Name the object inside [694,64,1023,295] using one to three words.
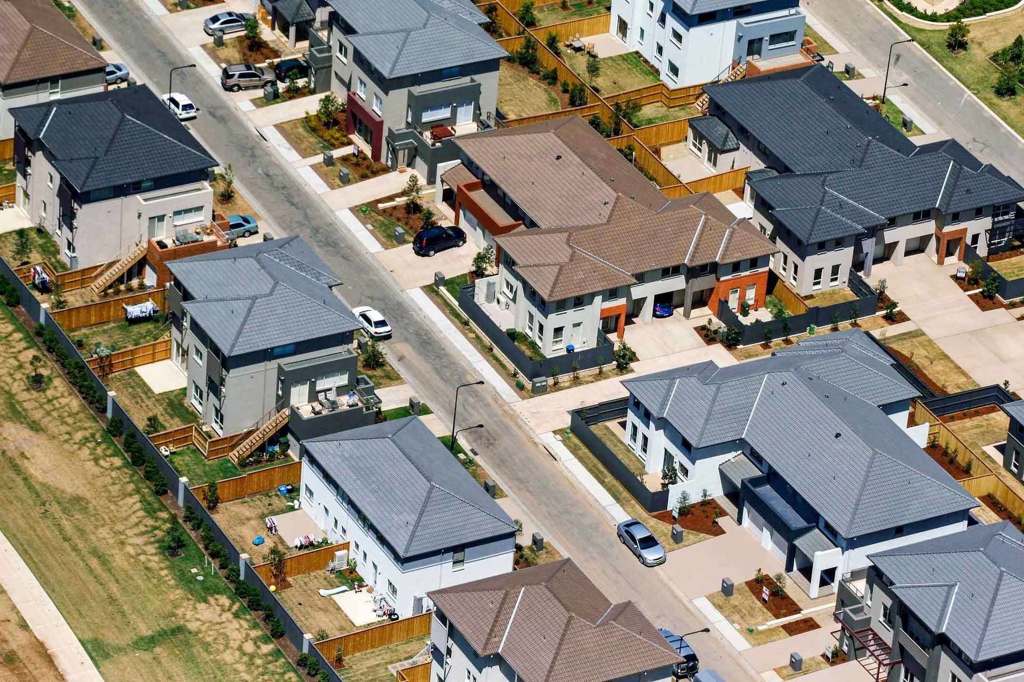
house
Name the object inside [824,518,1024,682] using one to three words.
house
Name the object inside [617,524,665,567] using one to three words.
car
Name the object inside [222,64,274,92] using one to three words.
car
